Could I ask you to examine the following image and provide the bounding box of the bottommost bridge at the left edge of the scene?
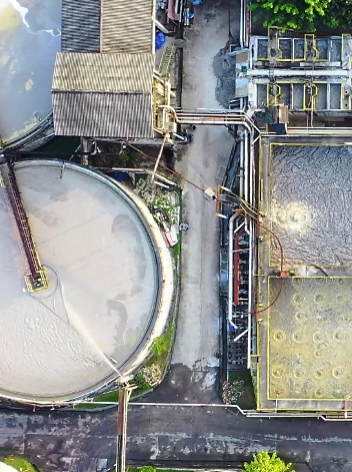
[0,160,50,292]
